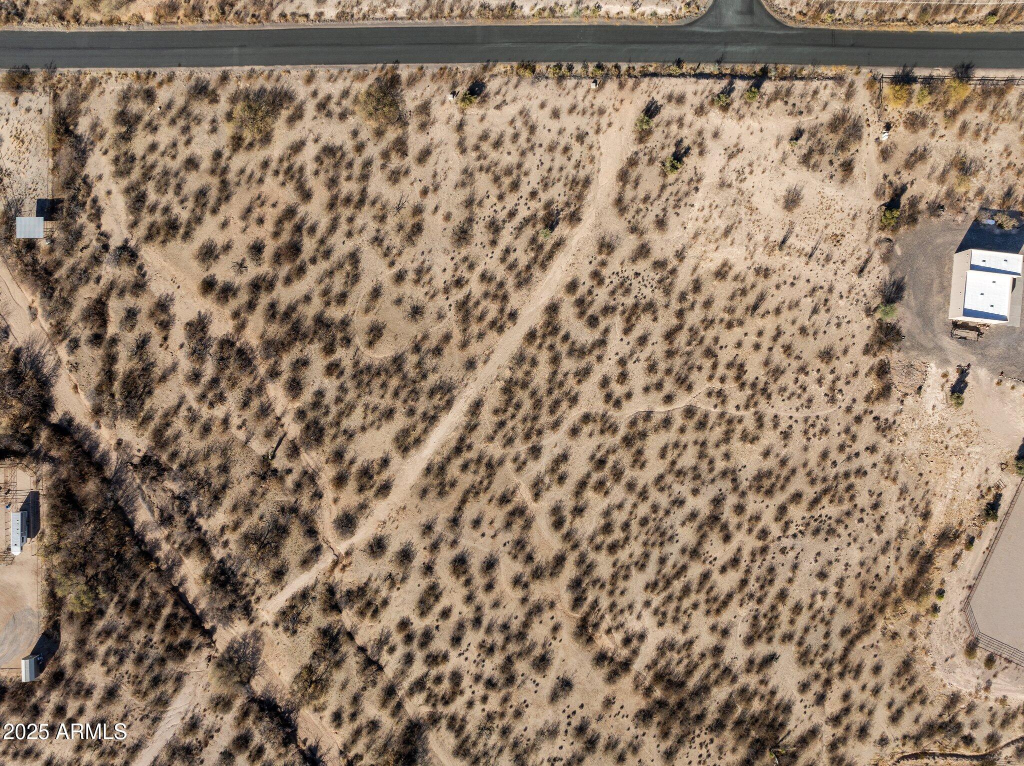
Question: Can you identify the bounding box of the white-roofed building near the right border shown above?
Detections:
[949,249,1024,322]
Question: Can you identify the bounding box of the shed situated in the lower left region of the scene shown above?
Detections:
[23,654,40,681]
